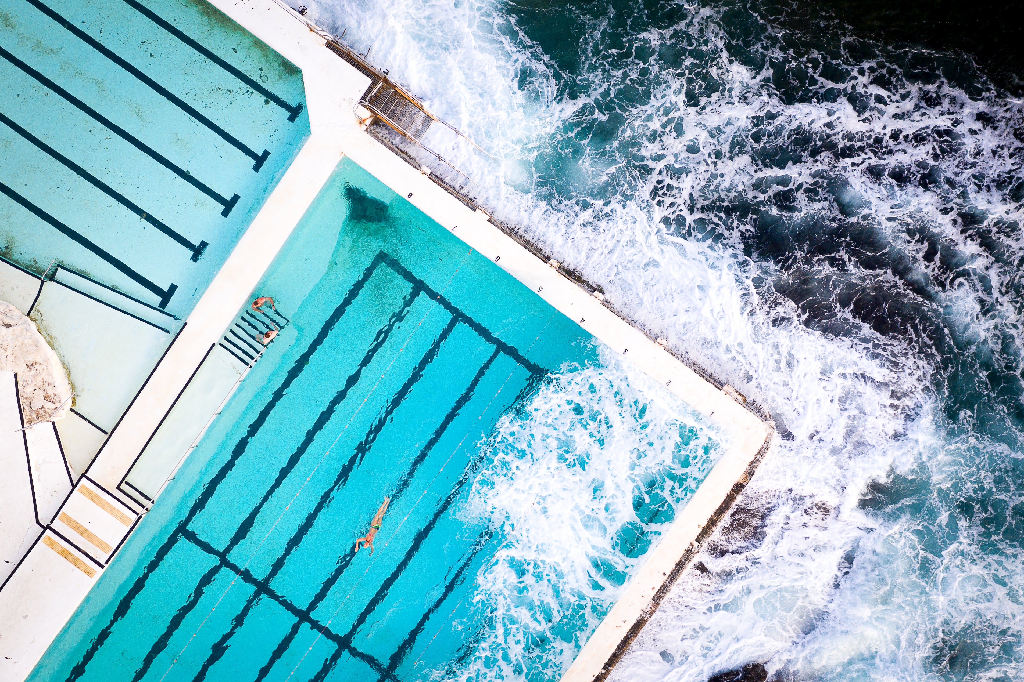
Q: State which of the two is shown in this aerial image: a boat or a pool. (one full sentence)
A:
Looking from above, you can make out a pool.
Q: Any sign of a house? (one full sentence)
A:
No, no house can be seen from above.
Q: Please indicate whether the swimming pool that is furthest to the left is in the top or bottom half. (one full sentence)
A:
You can find the swimming pool that is furthest to the left in the top half.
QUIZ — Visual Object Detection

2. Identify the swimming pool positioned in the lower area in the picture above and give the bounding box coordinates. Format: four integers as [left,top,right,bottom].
[27,159,732,682]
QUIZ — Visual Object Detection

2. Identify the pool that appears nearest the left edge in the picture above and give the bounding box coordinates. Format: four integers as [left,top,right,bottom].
[0,0,311,433]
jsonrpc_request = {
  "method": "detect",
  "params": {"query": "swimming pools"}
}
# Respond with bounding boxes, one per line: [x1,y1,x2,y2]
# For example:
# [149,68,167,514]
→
[0,0,311,433]
[27,159,732,682]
